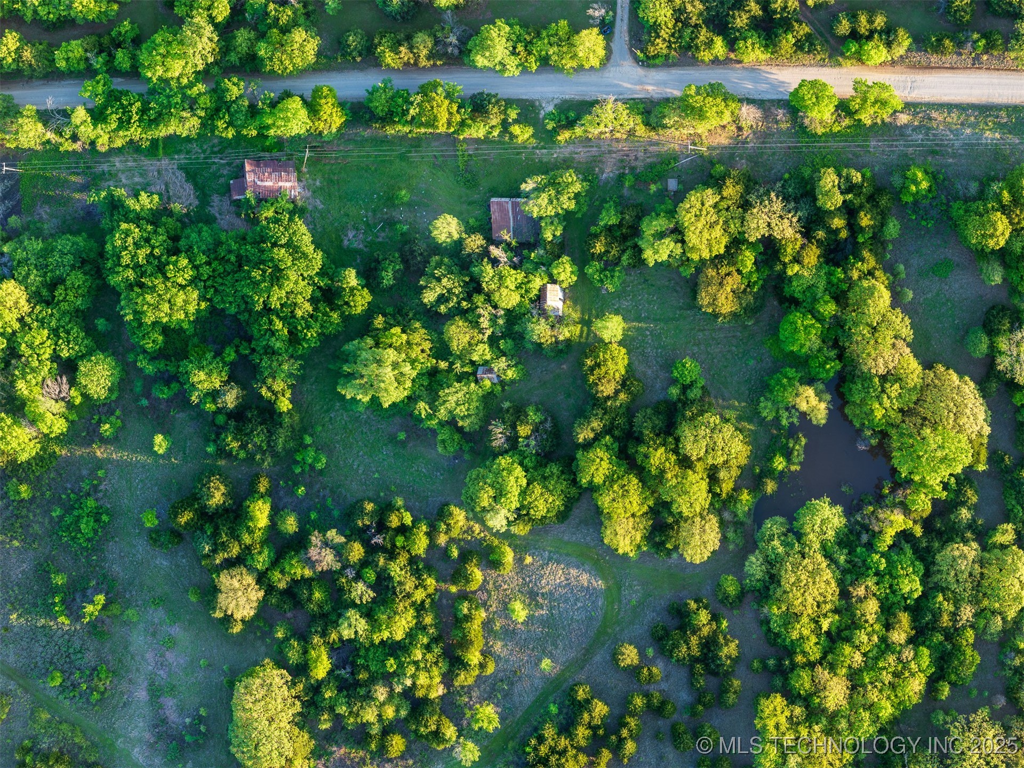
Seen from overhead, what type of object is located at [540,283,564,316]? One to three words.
shed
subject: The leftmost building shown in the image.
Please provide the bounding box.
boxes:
[231,158,299,202]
